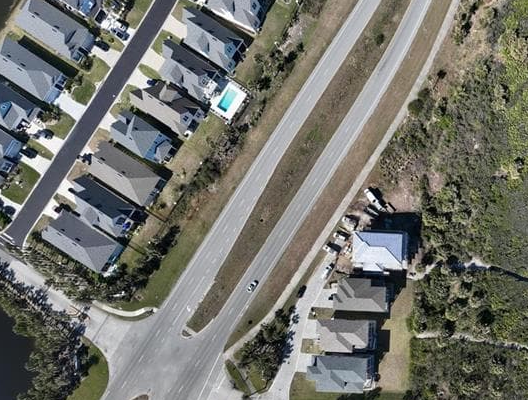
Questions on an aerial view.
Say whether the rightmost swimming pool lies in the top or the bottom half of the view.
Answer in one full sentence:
It is in the top half that the rightmost swimming pool appears.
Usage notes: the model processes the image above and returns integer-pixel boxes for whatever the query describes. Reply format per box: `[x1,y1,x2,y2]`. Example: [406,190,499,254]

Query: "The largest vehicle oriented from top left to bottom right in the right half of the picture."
[365,188,384,210]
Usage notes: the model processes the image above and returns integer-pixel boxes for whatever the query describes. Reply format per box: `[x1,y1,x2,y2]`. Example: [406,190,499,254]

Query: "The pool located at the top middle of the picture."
[210,82,247,119]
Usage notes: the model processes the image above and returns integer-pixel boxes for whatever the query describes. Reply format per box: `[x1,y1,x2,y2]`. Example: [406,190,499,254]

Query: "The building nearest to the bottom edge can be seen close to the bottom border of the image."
[310,355,374,392]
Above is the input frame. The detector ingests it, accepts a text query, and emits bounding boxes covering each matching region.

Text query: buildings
[11,0,98,65]
[0,38,72,104]
[320,319,376,352]
[353,232,408,271]
[86,140,171,202]
[60,0,107,22]
[310,355,374,392]
[0,85,44,130]
[156,42,222,103]
[42,210,127,274]
[0,130,28,173]
[66,182,149,243]
[207,0,280,36]
[182,12,256,73]
[108,110,177,163]
[130,77,203,139]
[335,278,392,311]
